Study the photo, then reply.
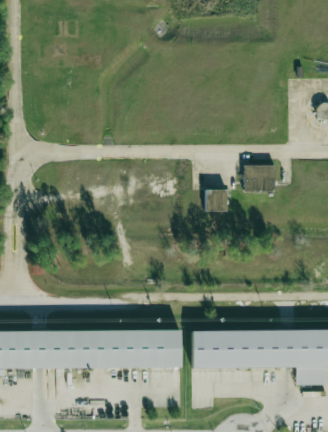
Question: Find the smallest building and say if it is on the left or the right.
right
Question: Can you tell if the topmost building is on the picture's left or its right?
right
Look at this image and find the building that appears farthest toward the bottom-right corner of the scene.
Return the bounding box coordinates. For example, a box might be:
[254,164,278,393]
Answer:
[192,330,328,386]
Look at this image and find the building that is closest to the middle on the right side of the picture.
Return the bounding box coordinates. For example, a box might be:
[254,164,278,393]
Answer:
[204,190,228,212]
